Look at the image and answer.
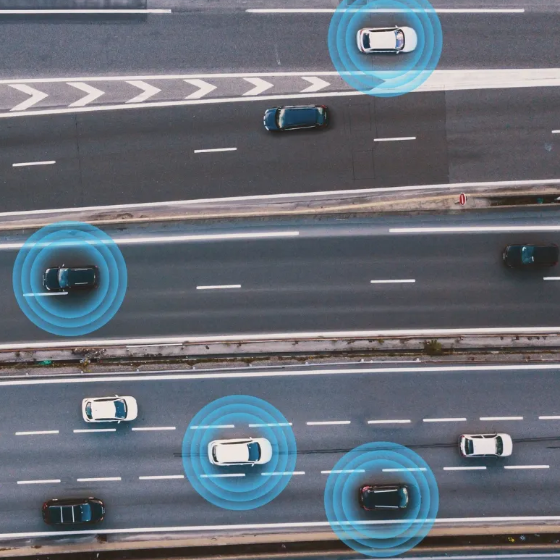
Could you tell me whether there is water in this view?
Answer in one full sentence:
No, no water is visible.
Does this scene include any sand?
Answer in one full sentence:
No, there's no sand in this view.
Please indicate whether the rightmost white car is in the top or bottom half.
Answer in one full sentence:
Seen from above, the rightmost white car lies in the bottom half of the view.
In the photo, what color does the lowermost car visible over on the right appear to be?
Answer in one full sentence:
The lowermost car visible over on the right is black.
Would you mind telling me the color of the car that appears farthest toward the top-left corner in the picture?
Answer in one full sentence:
In this view, the car that appears farthest toward the top-left corner is black.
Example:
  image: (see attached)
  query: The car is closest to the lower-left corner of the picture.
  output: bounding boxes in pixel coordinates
[42,495,104,527]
